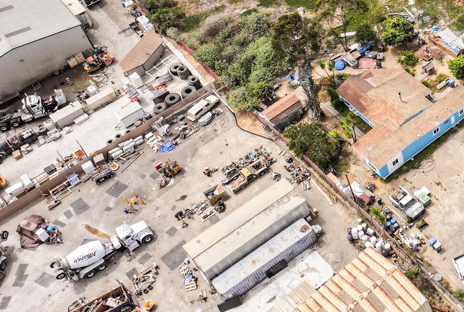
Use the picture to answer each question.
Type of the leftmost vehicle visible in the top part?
truck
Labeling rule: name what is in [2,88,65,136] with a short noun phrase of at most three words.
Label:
truck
